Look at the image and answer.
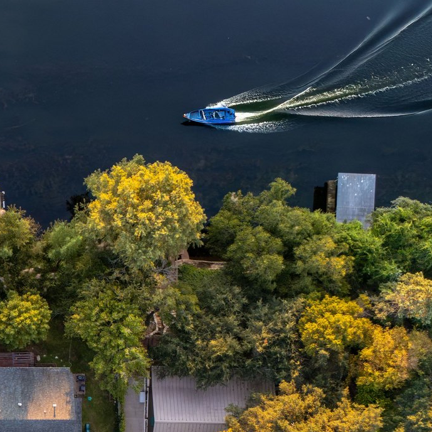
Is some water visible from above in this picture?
Yes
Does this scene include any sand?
No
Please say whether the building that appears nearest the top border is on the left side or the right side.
right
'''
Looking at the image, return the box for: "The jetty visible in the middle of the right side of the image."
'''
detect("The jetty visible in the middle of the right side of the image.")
[324,179,338,227]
